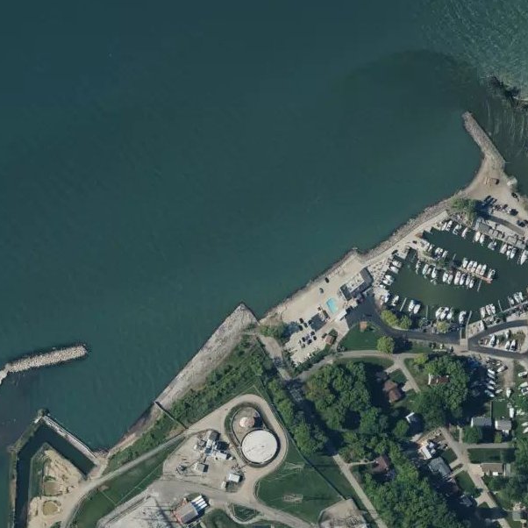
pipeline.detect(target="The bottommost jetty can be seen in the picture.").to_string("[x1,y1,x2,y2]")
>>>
[41,415,101,462]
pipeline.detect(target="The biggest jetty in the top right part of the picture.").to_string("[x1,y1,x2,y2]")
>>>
[463,111,504,167]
